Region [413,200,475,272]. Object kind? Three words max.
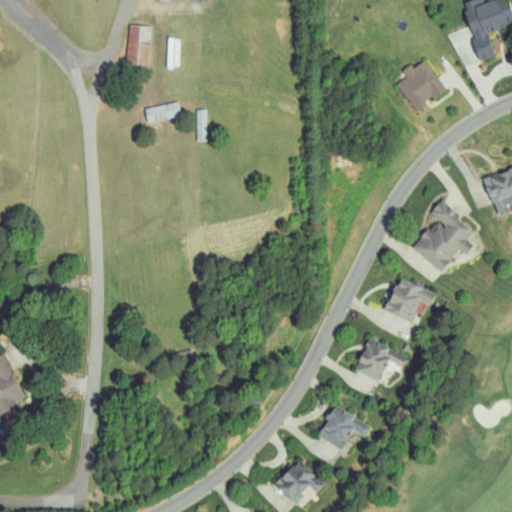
house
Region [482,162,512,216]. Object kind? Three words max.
house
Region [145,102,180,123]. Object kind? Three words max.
shed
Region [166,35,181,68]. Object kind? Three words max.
shed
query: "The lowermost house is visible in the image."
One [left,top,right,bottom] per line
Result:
[276,462,324,504]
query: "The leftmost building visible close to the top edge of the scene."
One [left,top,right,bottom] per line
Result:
[128,24,152,66]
